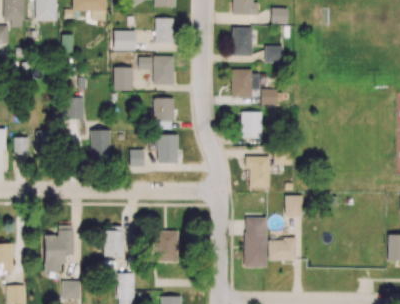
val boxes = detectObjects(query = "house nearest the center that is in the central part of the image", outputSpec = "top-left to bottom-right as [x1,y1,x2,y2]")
[156,134,182,162]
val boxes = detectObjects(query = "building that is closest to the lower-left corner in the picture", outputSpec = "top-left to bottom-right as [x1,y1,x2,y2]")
[6,284,26,304]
